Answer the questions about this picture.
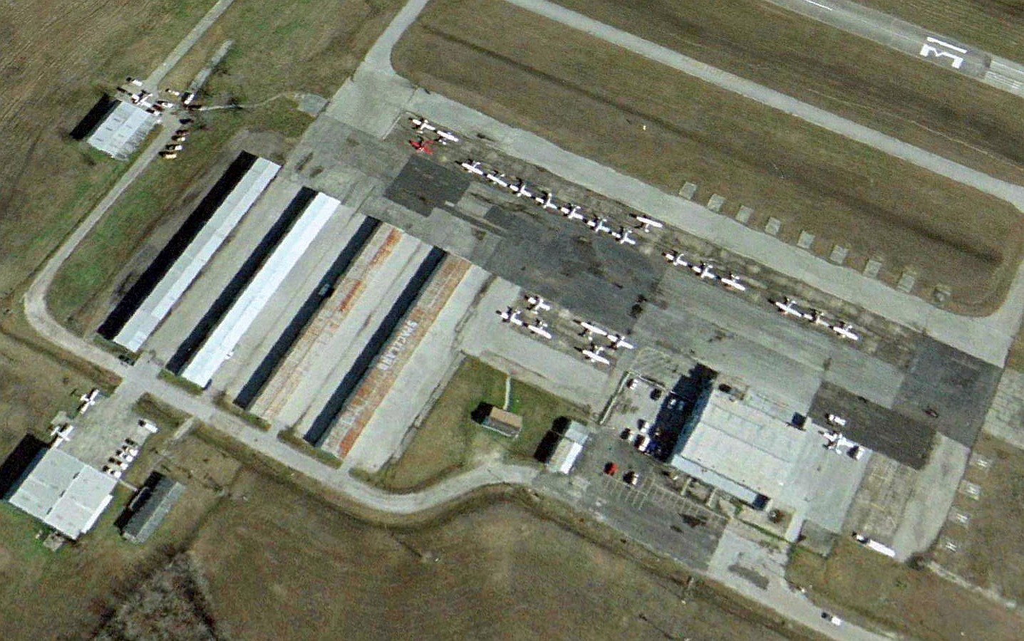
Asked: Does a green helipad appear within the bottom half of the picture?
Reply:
No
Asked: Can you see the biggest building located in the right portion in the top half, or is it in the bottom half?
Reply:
bottom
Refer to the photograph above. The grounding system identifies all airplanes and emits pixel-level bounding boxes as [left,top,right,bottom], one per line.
[722,273,746,291]
[666,250,687,266]
[588,215,611,232]
[510,180,532,197]
[410,136,434,154]
[834,321,859,341]
[487,170,507,186]
[501,309,523,325]
[824,430,856,455]
[54,425,74,447]
[462,159,483,175]
[776,297,802,318]
[529,320,552,339]
[80,390,98,413]
[608,329,635,349]
[637,215,664,234]
[612,227,636,244]
[693,261,715,279]
[132,92,151,107]
[583,344,610,365]
[804,308,830,327]
[528,299,551,315]
[581,322,608,341]
[535,192,558,209]
[412,119,436,136]
[437,129,459,146]
[561,202,584,219]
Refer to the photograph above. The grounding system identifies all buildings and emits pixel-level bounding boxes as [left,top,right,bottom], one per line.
[83,101,156,161]
[42,534,64,550]
[110,158,280,352]
[318,253,471,459]
[668,363,811,509]
[248,222,403,420]
[481,407,522,435]
[3,448,116,540]
[178,192,340,387]
[543,421,588,474]
[122,475,185,542]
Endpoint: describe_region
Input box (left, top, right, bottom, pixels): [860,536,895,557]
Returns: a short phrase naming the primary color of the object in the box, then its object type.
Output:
white truck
